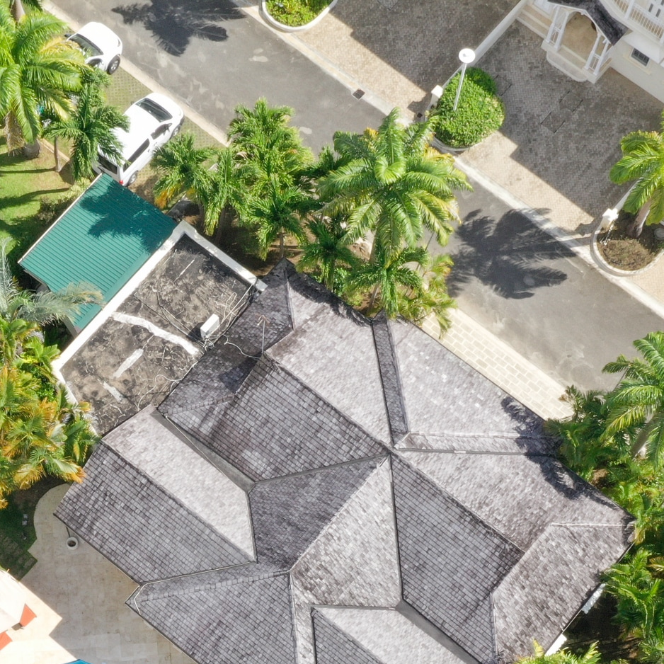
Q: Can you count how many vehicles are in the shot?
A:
2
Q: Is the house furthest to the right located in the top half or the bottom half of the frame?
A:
top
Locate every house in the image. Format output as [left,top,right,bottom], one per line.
[508,0,664,104]
[52,256,635,664]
